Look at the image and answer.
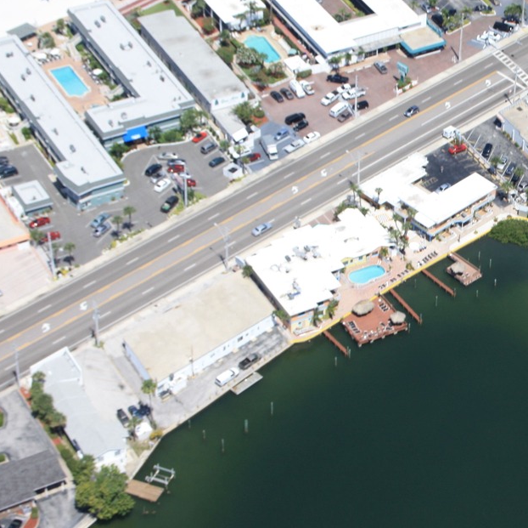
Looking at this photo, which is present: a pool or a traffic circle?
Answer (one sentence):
The one in the frame is a pool.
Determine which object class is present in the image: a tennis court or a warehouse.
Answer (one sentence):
Of the two, only a warehouse appears.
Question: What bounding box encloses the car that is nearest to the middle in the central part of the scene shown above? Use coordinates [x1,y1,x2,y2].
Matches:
[252,221,272,234]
